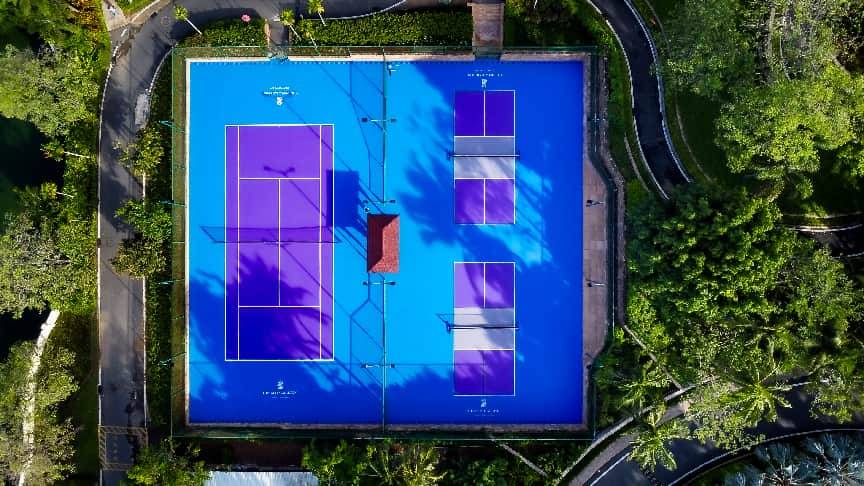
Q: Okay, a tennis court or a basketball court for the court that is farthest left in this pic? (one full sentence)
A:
In the photo, the court that is farthest left shows up as a tennis court.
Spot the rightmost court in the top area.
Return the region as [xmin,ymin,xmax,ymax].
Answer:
[386,62,583,243]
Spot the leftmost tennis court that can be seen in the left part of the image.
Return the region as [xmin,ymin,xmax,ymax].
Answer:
[189,62,386,424]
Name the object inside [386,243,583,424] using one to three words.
sports court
